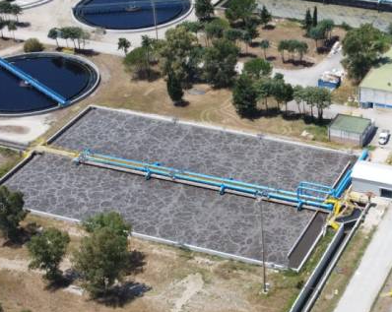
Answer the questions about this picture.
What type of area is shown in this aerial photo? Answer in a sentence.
It's an industrial area.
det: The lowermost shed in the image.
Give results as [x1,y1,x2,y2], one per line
[349,159,392,198]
